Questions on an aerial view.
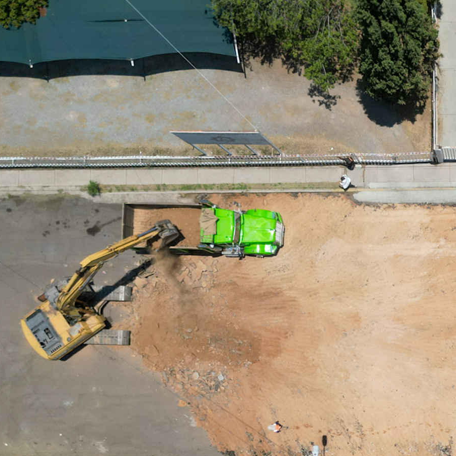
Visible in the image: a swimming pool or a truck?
truck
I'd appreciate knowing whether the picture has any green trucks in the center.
Yes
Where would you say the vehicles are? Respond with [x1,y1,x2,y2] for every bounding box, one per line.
[122,202,288,259]
[22,221,174,359]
